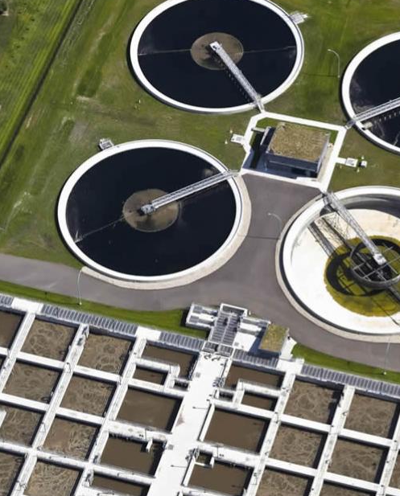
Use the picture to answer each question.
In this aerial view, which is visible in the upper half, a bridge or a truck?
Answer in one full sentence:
The feature located in the upper half is a bridge.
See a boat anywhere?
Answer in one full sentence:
No, I can't see a single boat in this photo.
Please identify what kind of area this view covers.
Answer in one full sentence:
The area seen from above is an industrial area.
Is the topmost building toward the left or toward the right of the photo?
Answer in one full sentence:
You can find the topmost building on the right side of the picture.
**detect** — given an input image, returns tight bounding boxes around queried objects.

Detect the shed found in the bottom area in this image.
[260,323,297,361]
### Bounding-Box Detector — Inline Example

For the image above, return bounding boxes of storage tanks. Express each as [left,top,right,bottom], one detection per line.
[58,136,244,284]
[130,0,308,115]
[341,32,400,155]
[282,185,400,336]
